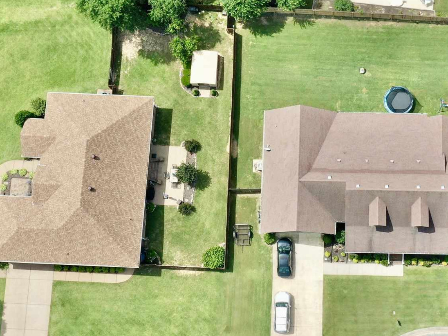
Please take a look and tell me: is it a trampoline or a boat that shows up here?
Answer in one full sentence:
The one in the frame is a trampoline.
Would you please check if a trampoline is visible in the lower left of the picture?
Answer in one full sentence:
No, the scene shows no trampoline in the lower left of the picture.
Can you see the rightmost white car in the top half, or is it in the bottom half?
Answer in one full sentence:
It is in the bottom half that the rightmost white car appears.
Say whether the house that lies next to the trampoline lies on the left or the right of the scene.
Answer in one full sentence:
It is on the right.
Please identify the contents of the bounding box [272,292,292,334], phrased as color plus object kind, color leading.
white car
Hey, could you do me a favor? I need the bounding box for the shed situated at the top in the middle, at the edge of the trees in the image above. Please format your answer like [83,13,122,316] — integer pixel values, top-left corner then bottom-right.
[190,50,219,90]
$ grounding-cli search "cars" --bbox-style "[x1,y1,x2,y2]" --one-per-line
[274,238,293,277]
[272,292,292,334]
